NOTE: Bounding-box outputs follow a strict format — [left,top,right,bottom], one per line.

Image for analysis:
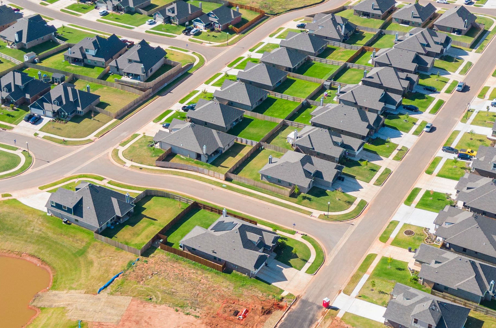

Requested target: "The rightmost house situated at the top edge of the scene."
[435,9,477,39]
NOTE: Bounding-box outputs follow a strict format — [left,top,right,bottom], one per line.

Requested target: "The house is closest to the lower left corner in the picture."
[43,181,135,234]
